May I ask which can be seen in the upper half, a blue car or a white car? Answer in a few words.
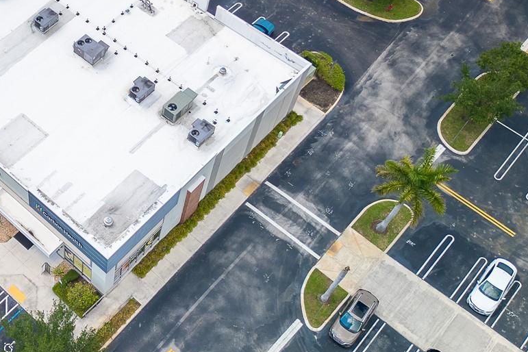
blue car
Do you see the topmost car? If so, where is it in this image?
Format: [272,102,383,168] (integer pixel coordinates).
[254,17,283,40]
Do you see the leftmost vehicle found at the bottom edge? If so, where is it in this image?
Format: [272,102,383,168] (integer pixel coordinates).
[326,291,381,350]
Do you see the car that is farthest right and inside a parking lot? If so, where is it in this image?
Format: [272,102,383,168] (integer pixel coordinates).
[467,258,519,315]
